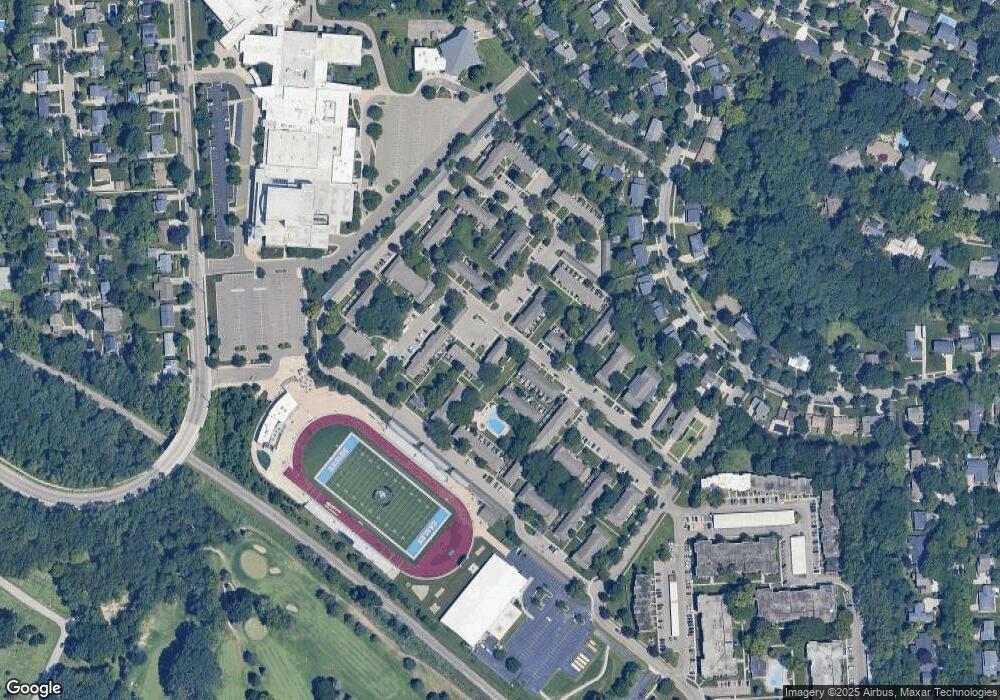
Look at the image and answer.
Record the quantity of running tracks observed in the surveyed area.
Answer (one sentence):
Altogether the scene contains 1 running track.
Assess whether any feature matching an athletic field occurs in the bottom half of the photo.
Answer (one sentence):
Yes, in the bottom half of the photo there is an athletic field.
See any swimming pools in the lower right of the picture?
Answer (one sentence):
Yes, the scene does show a swimming pool in the lower right of the picture.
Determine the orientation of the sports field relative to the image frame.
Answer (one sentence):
I'd say the sports field is aligned on a diagonal in the picture.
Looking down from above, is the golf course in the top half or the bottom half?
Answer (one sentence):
The golf course sits in the bottom half of the picture.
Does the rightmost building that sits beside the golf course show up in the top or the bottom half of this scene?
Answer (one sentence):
Seen from above, the rightmost building that sits beside the golf course lies in the bottom half of the view.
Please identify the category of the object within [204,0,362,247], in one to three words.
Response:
building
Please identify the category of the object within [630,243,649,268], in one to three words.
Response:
house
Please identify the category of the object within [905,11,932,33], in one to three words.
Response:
house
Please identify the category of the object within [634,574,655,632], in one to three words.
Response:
building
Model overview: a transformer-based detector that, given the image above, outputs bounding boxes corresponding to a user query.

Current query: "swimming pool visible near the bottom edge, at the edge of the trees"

[766,657,790,696]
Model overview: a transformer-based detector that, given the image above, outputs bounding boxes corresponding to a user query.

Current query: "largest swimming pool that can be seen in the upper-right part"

[866,132,909,164]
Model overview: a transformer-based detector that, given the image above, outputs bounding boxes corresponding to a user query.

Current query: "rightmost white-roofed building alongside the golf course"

[439,555,534,647]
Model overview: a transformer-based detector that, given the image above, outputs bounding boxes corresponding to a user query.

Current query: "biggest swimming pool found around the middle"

[472,401,510,438]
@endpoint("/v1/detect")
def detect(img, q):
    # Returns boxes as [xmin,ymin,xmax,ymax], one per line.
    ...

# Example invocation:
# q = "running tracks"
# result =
[282,413,474,579]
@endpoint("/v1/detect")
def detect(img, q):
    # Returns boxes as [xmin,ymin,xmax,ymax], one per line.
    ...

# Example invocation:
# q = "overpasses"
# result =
[154,413,205,472]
